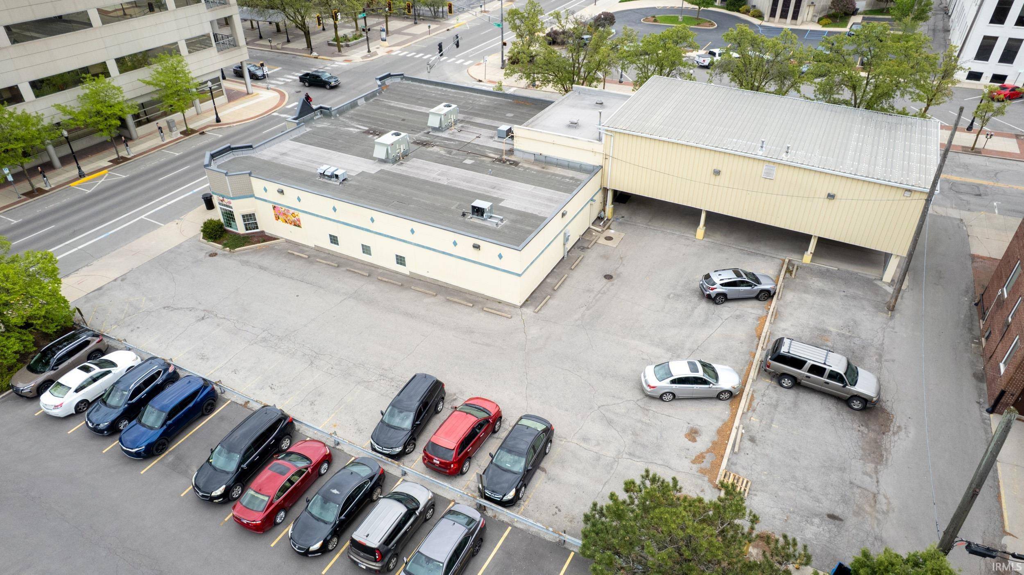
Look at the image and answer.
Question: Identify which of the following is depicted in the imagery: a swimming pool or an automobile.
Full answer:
The image shows an automobile.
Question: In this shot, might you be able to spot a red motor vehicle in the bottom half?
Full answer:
Yes, looking in the bottom half, one can make out a red motor vehicle.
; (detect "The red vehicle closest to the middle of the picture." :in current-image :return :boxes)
[423,400,502,481]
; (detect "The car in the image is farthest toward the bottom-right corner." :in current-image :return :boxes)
[769,336,889,412]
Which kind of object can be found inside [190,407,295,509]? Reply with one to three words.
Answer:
car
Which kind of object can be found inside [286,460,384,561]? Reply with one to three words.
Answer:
car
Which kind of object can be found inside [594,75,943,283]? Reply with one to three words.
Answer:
building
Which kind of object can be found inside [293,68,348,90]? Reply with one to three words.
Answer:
truck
